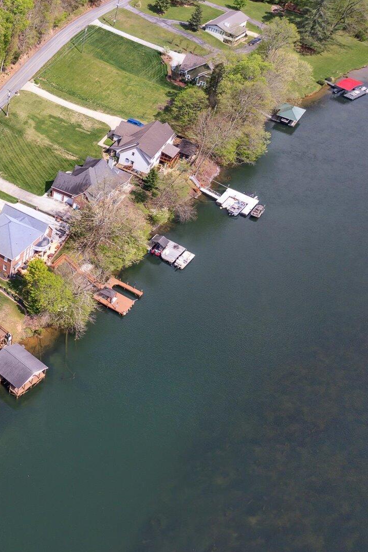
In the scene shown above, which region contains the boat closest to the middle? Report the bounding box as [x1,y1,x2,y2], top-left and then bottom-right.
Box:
[176,251,199,271]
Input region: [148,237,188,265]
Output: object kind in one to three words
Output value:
pier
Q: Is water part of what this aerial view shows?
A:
Yes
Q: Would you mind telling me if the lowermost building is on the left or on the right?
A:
left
